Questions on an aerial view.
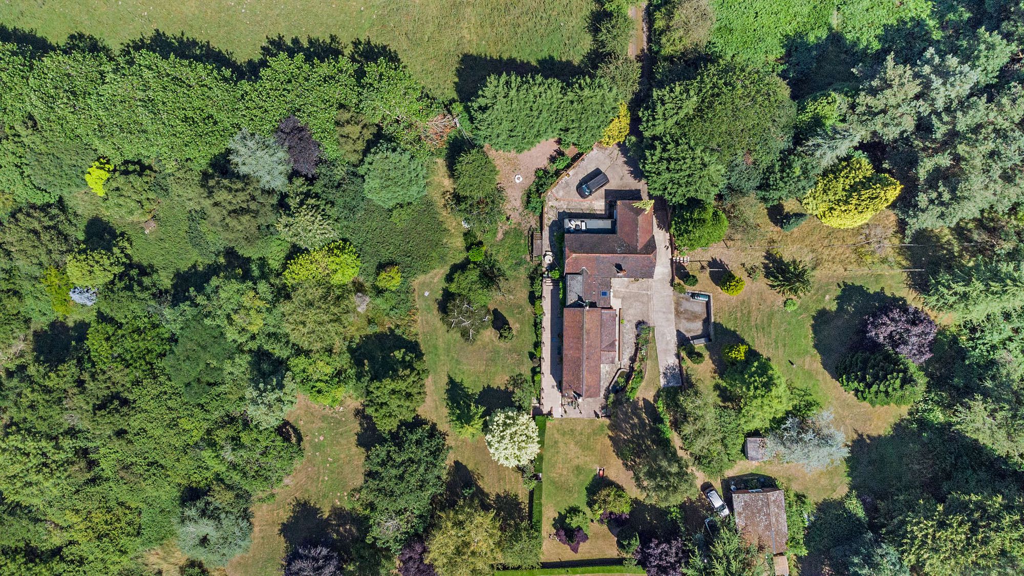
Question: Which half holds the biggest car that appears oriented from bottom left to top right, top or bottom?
top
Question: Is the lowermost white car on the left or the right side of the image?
right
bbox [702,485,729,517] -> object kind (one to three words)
car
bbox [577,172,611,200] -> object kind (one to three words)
car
